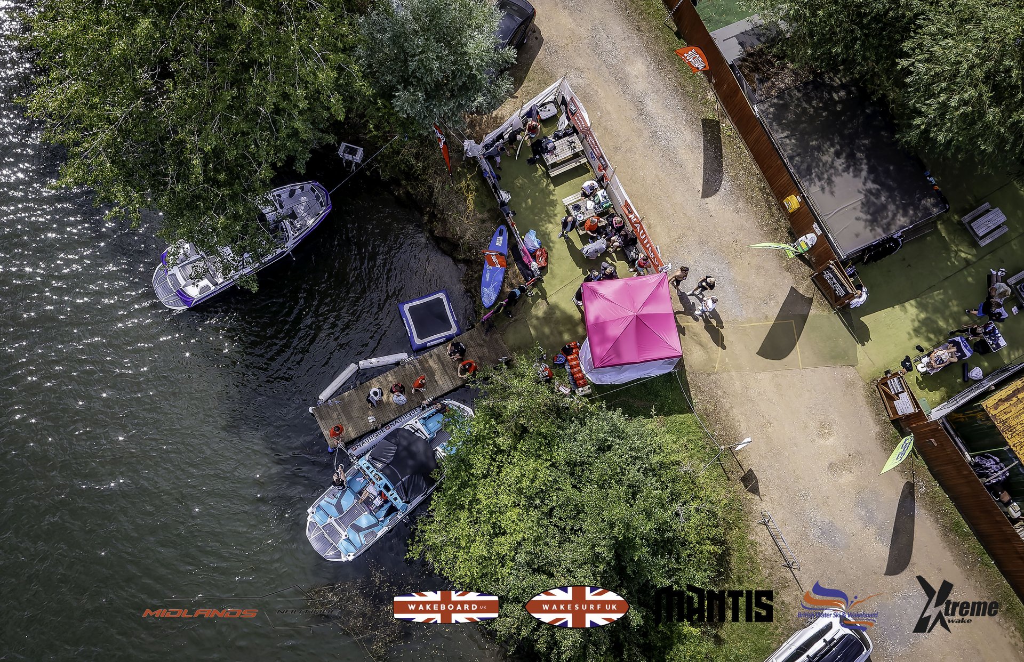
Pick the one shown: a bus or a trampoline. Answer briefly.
trampoline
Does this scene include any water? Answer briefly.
Yes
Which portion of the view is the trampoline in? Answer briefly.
center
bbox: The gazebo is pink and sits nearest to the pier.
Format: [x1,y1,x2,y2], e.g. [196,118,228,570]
[576,273,684,386]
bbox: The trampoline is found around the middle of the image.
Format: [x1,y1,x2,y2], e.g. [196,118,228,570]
[398,290,462,353]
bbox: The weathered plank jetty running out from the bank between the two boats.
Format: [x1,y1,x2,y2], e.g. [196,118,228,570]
[313,324,508,449]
